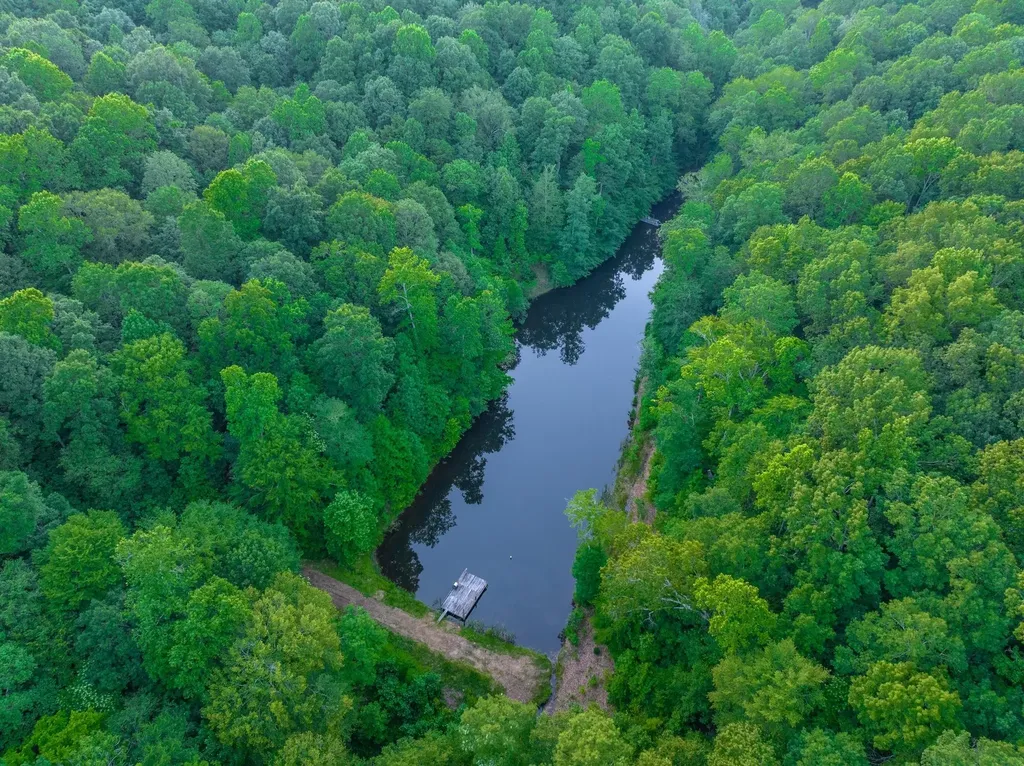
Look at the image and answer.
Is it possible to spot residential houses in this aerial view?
No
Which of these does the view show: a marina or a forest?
forest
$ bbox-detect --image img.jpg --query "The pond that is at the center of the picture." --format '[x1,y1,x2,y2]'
[378,154,711,660]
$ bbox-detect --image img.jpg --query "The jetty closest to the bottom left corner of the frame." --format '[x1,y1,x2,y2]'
[434,570,485,621]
